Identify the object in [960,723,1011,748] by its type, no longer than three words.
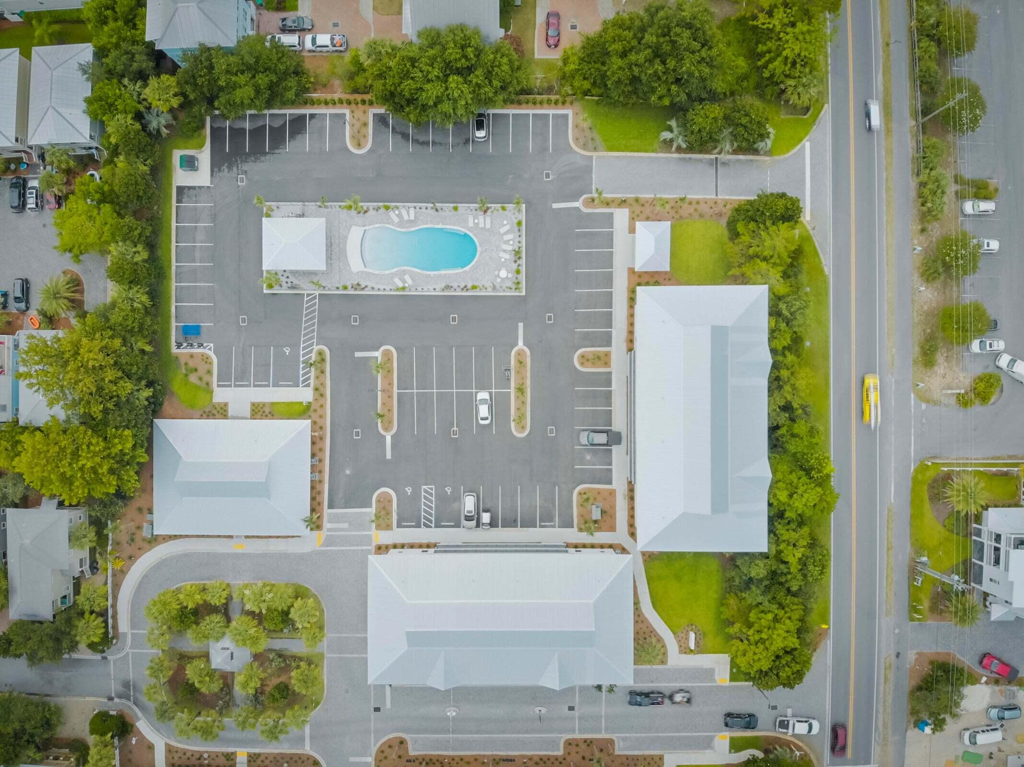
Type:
vehicle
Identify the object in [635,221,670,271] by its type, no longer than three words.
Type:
building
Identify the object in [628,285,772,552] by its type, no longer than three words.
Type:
building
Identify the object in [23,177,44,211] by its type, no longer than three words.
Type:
car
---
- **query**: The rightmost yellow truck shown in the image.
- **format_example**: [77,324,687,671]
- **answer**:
[861,374,885,427]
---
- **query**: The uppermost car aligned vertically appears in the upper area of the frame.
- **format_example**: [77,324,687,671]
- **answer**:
[545,10,561,48]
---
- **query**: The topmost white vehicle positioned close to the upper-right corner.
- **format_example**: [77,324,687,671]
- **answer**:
[862,96,883,134]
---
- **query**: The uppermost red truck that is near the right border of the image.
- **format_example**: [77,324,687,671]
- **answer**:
[976,651,1024,684]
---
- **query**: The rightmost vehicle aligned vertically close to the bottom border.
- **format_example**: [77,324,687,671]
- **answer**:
[830,722,849,760]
